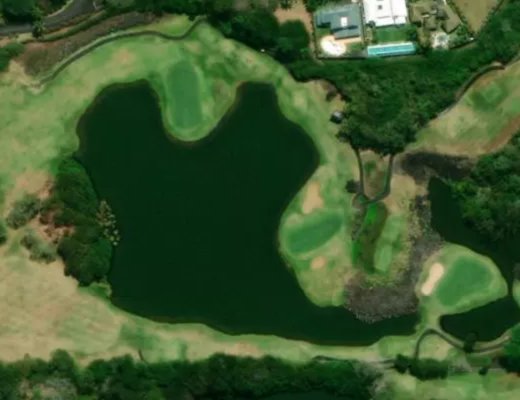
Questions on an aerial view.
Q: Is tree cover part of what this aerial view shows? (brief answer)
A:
Yes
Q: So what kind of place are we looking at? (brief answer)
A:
golf course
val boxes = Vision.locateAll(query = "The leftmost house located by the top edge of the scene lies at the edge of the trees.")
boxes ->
[315,4,360,39]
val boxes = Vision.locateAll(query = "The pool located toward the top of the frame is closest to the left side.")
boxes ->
[367,43,415,57]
